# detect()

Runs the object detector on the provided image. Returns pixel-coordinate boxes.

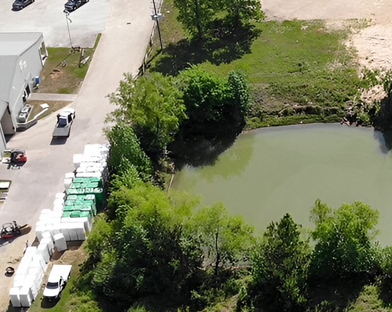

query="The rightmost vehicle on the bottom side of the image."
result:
[43,256,72,293]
